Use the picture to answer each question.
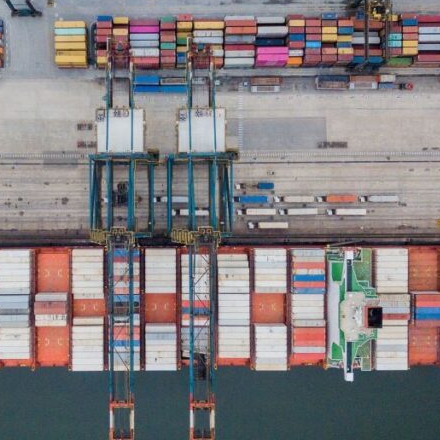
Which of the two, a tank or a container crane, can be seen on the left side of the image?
container crane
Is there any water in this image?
Yes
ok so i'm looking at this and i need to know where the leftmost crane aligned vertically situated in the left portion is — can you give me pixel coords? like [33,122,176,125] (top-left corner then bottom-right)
[88,44,166,440]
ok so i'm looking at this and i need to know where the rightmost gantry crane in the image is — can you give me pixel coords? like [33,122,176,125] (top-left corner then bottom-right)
[346,0,392,78]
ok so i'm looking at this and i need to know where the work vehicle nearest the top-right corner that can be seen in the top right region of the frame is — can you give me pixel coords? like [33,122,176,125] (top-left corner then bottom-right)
[396,78,421,94]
